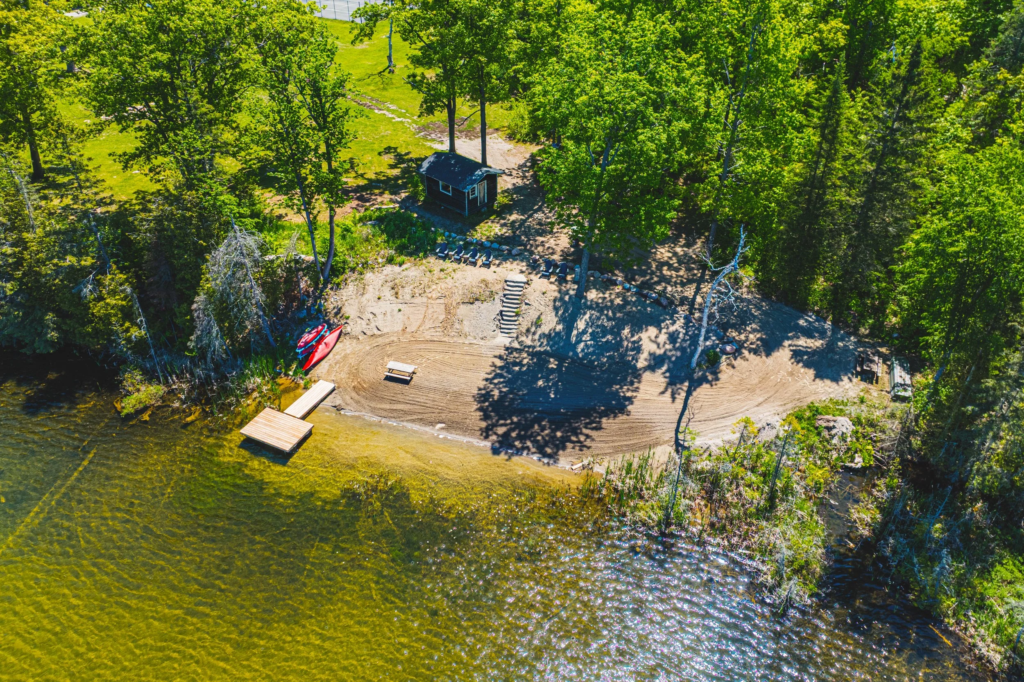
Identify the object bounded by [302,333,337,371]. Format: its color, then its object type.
red boat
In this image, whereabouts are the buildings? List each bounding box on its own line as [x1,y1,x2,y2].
[421,152,503,216]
